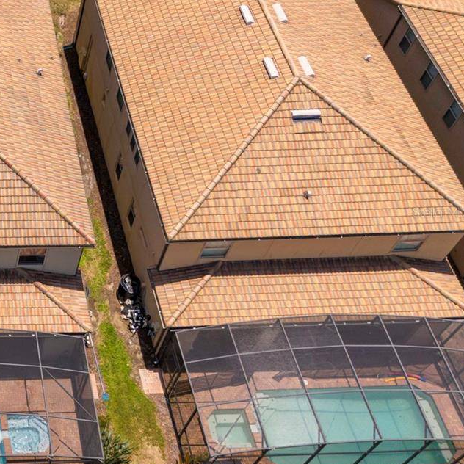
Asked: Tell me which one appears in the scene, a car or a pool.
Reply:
pool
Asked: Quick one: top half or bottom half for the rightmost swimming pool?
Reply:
bottom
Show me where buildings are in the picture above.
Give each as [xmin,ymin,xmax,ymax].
[0,0,98,354]
[59,0,464,348]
